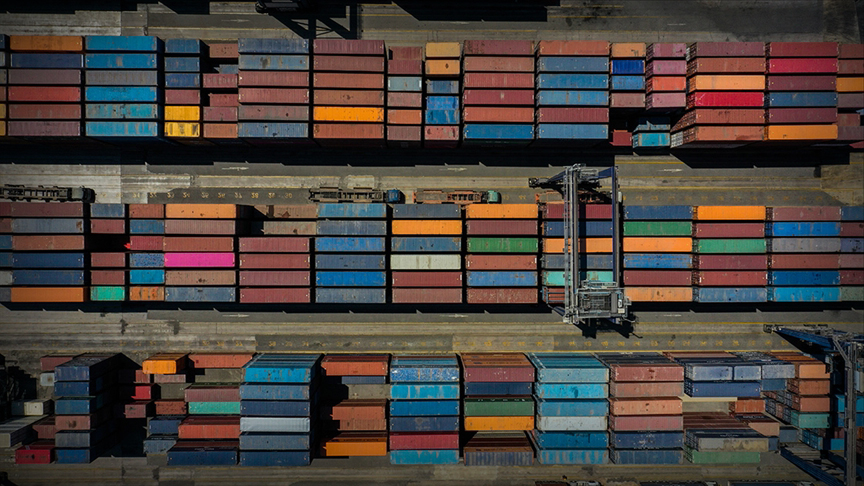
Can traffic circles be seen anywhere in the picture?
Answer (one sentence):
No, the frame has no traffic circle in it.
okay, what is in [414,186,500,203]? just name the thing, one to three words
vehicle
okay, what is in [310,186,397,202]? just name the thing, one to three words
vehicle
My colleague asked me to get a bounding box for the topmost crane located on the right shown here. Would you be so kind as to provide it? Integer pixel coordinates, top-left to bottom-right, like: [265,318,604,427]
[526,164,633,329]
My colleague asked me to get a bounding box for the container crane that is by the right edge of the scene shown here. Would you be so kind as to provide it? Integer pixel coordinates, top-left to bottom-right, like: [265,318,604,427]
[759,323,864,486]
